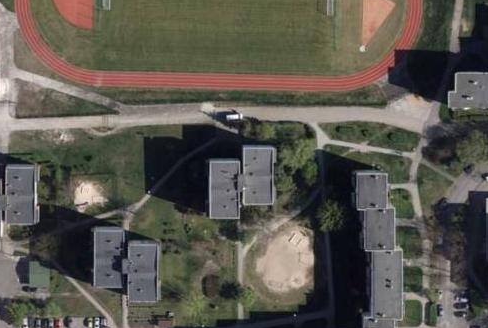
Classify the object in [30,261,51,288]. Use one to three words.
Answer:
shed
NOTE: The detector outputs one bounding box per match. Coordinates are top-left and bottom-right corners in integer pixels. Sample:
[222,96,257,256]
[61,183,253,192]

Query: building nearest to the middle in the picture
[210,146,279,220]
